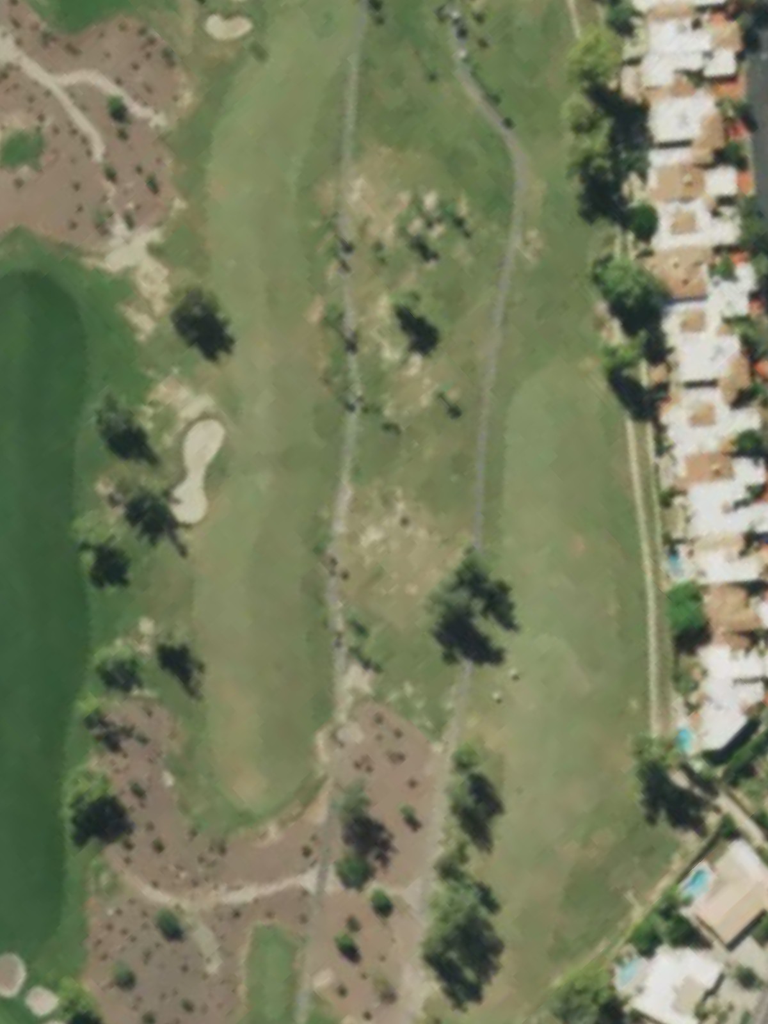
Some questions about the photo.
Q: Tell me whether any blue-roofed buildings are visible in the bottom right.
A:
No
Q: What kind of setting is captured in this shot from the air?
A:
golf course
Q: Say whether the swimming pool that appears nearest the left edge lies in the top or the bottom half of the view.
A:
bottom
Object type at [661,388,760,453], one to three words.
house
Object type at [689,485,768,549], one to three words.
house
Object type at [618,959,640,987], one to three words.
swimming pool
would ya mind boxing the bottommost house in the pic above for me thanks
[628,949,723,1024]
